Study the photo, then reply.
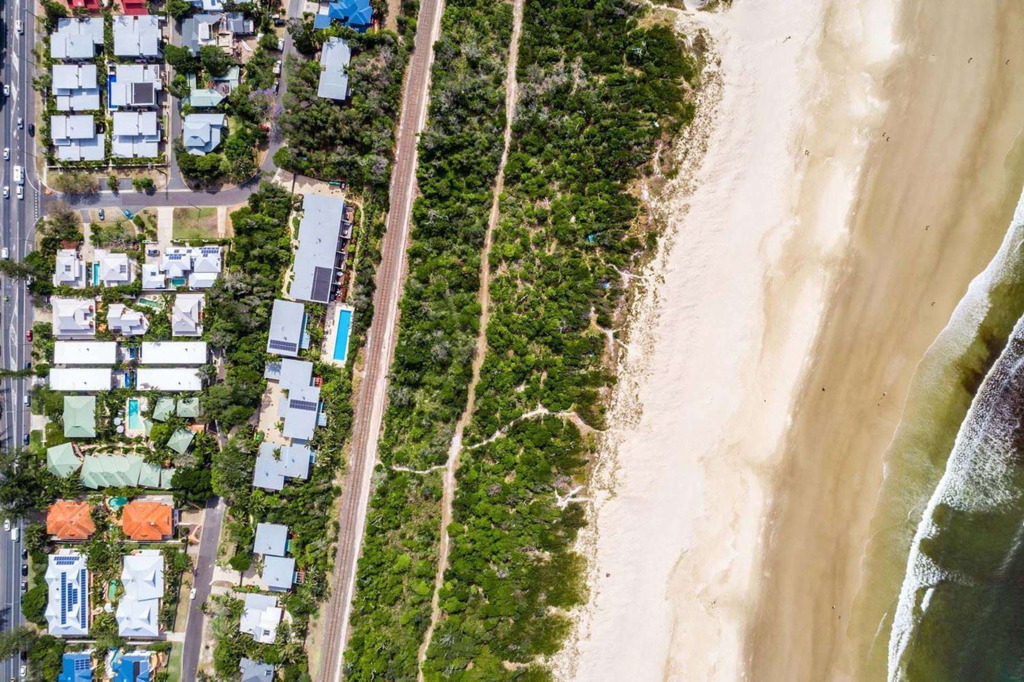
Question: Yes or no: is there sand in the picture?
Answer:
Yes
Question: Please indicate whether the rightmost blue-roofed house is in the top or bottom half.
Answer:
top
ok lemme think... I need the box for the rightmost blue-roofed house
[315,0,372,32]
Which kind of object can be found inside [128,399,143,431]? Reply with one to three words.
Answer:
swimming pool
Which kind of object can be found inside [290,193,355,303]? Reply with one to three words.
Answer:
building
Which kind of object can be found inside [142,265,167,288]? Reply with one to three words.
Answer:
house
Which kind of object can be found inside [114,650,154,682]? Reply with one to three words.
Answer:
house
